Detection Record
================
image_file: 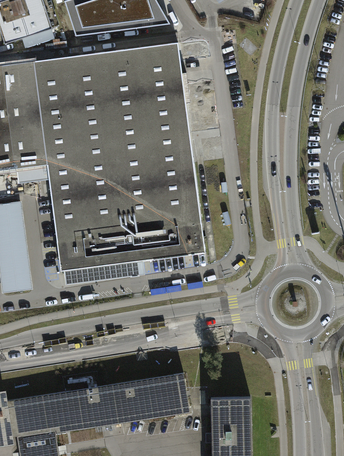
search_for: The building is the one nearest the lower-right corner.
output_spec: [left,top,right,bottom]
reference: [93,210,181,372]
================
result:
[211,395,252,456]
